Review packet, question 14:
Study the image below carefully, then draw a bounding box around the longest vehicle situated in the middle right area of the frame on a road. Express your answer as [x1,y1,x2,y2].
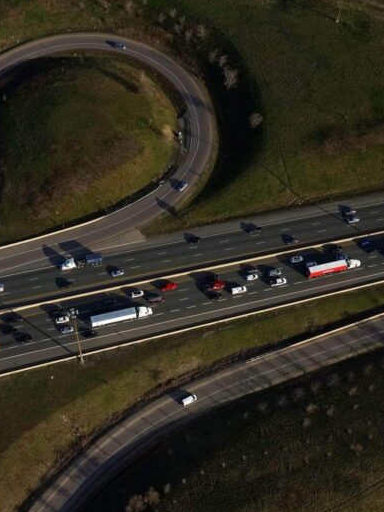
[306,260,361,279]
